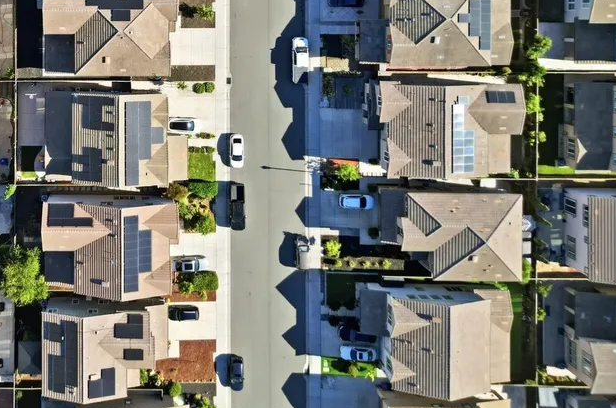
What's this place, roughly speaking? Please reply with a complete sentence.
This image shows a residential area.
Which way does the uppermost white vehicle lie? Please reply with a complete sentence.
In this picture, the uppermost white vehicle lies up and down.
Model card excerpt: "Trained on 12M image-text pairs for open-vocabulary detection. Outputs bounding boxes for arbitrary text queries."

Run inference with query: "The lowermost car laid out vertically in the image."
[229,352,246,389]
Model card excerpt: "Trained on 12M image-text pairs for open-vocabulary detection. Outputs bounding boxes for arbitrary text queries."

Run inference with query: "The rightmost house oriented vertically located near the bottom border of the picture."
[566,283,616,394]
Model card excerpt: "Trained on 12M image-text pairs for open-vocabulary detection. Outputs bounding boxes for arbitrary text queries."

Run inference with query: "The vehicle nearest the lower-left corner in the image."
[168,305,199,322]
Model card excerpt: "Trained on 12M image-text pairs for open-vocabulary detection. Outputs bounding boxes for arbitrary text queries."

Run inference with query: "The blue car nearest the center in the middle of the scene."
[338,193,375,211]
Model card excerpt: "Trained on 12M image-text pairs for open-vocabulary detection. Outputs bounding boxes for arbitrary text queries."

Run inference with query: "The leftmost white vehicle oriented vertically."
[229,133,245,167]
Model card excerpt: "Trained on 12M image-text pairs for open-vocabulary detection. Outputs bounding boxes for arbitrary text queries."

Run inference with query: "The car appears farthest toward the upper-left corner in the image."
[171,117,207,134]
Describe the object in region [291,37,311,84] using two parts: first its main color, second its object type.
white vehicle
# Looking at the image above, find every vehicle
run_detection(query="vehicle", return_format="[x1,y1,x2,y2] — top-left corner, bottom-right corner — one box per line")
[229,352,246,389]
[228,183,248,229]
[294,234,312,270]
[328,0,365,8]
[229,133,245,167]
[168,305,199,322]
[338,193,375,211]
[174,256,209,273]
[340,344,377,363]
[337,325,377,344]
[291,37,311,84]
[171,117,207,134]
